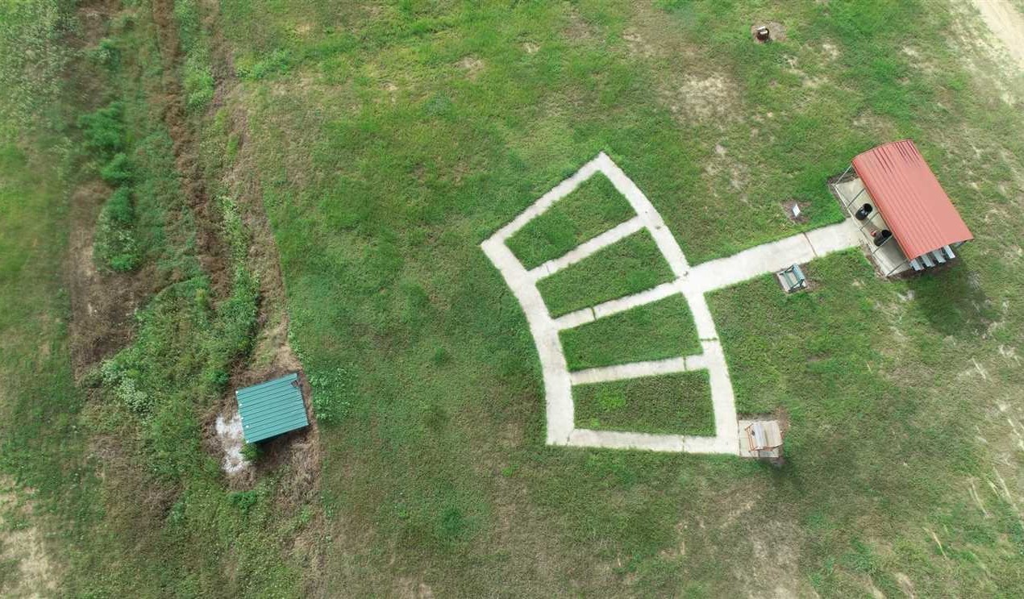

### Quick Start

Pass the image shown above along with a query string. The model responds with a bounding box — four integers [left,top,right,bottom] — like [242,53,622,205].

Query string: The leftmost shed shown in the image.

[236,374,309,443]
